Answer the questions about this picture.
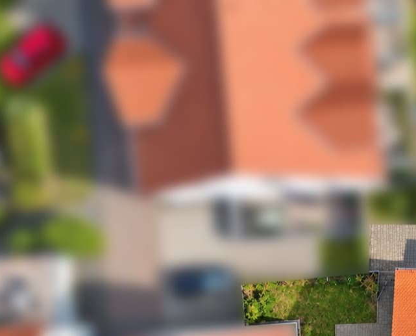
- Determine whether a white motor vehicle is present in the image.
No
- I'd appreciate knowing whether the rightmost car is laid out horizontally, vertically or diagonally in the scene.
horizontally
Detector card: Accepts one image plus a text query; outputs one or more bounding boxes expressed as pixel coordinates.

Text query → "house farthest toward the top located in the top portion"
[101,0,388,200]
